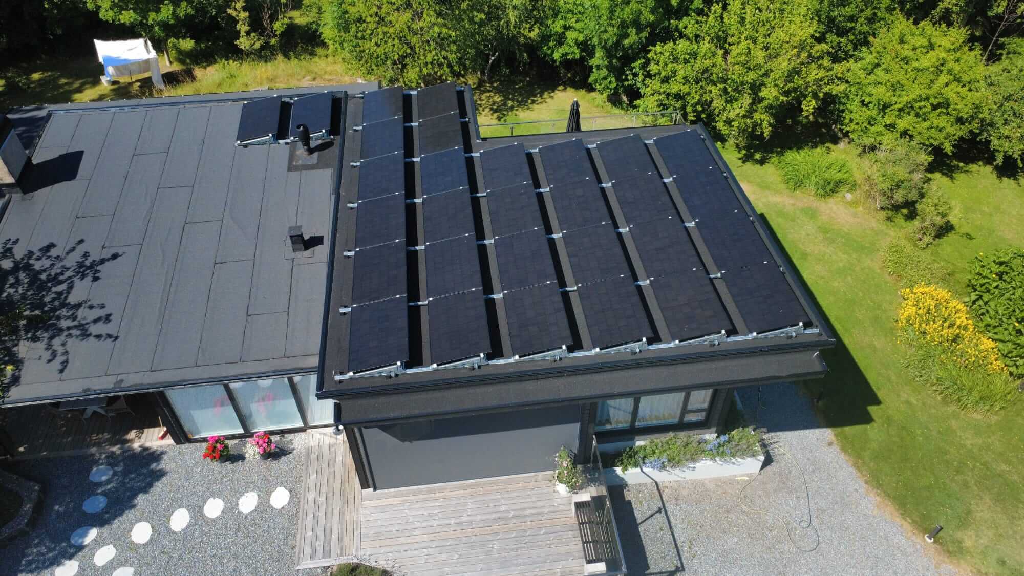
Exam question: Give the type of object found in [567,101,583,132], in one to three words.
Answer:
umbrella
